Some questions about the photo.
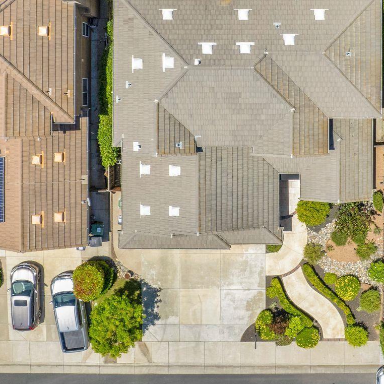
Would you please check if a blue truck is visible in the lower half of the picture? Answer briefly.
No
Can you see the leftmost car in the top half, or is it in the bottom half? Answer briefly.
bottom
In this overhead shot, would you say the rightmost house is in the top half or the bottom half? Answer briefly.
top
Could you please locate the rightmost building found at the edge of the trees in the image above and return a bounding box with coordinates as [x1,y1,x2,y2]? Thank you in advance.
[111,0,384,252]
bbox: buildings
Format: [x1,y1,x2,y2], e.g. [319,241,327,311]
[111,0,384,252]
[0,0,108,253]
